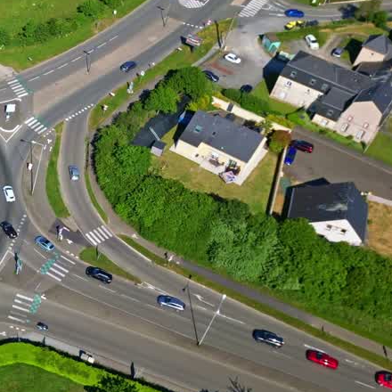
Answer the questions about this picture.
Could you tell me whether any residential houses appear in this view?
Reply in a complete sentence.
Yes, you can see a residential house in this photo.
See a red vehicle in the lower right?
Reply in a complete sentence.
Yes, a red vehicle can be seen in the lower right.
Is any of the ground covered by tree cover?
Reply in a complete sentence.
Yes, there is tree cover in the image.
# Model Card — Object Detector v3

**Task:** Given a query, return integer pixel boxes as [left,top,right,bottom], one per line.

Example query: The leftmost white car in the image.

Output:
[2,186,16,204]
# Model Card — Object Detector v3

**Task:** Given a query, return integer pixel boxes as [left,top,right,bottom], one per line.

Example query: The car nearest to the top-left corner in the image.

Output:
[120,61,138,74]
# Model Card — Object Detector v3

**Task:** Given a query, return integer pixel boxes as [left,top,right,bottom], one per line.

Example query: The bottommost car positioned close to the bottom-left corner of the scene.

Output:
[35,321,51,333]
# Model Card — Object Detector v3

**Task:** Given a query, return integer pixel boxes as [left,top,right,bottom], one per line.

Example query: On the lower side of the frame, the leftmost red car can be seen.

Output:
[307,352,339,370]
